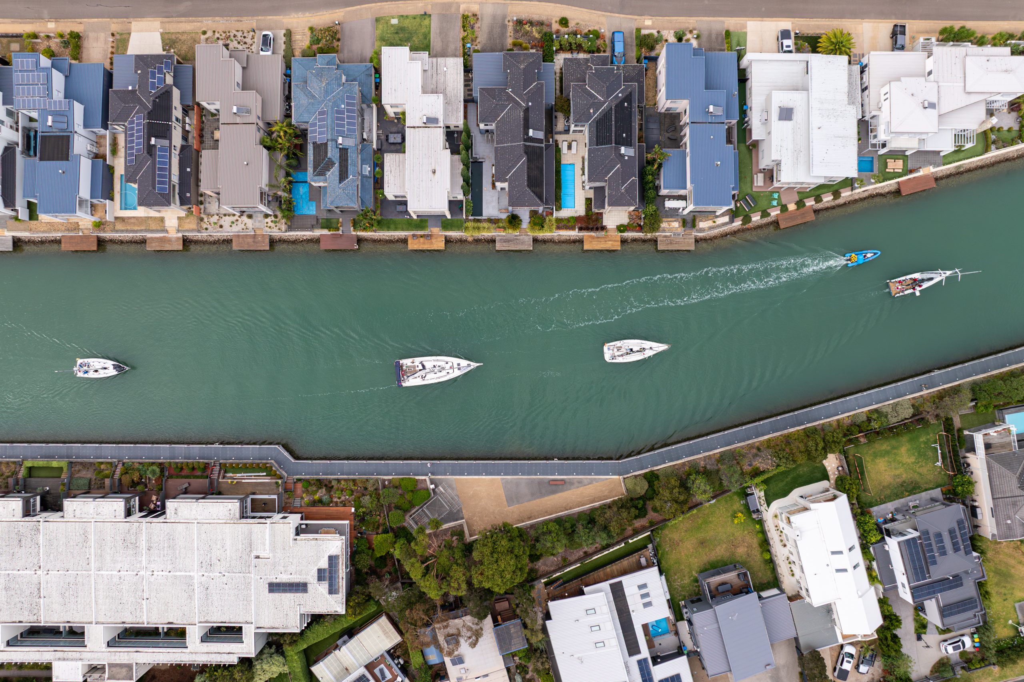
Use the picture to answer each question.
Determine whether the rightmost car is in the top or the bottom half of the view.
bottom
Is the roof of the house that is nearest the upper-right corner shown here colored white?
Yes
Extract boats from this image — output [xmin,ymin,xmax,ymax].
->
[602,337,671,362]
[55,359,133,380]
[844,249,881,267]
[395,355,483,387]
[886,267,981,298]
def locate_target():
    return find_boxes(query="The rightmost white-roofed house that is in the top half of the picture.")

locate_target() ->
[857,36,1024,156]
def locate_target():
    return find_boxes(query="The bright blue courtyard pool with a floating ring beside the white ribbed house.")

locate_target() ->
[647,617,671,640]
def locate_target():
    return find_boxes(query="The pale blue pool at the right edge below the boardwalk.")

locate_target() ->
[1002,409,1024,437]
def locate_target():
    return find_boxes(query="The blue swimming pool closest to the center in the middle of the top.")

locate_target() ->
[561,161,577,210]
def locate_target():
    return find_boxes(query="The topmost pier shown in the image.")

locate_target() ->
[898,166,936,196]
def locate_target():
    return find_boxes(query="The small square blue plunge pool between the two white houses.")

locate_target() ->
[858,154,877,174]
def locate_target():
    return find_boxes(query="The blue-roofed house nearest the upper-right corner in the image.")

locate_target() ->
[659,42,739,215]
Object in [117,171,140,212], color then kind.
blue swimming pool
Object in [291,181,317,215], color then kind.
blue swimming pool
